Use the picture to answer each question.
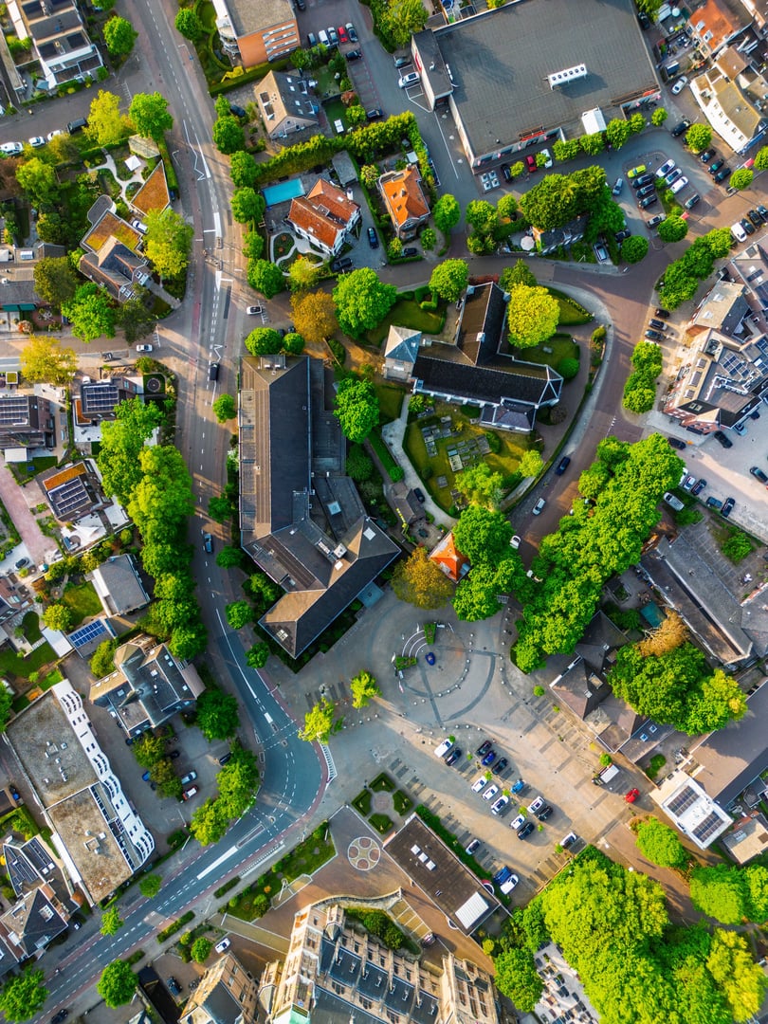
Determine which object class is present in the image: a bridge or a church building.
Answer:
church building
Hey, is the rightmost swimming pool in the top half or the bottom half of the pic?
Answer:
top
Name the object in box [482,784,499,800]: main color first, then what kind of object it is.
white car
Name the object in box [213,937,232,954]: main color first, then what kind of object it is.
white car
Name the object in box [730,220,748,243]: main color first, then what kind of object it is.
white vehicle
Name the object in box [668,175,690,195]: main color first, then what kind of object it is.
white vehicle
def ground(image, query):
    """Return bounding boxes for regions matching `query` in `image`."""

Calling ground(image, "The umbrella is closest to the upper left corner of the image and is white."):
[124,155,141,171]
